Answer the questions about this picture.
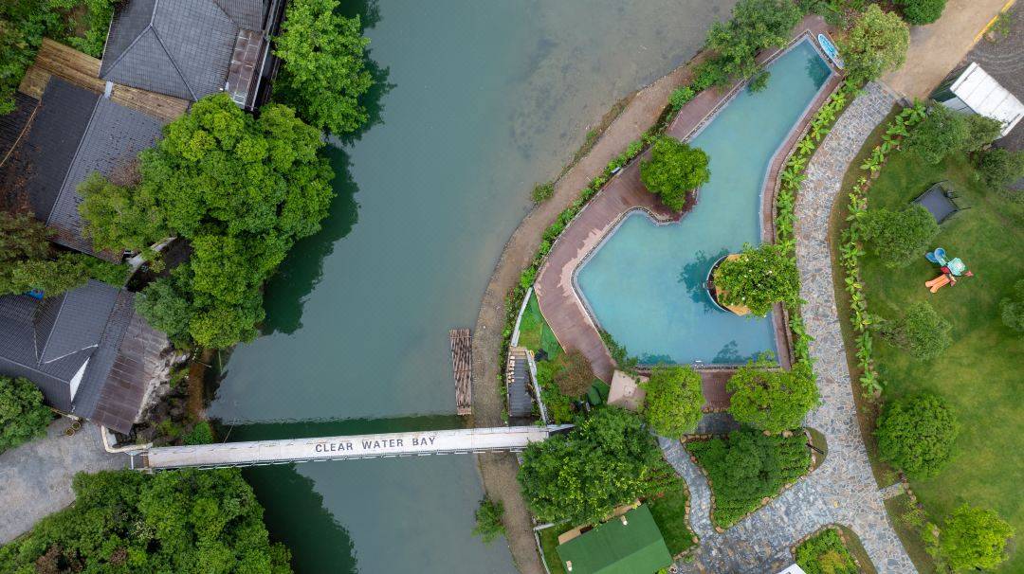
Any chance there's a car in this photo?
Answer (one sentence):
No, I can see no car in this picture.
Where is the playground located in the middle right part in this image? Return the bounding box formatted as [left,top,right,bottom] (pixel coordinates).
[925,247,977,293]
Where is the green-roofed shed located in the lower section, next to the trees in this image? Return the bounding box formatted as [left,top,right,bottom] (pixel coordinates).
[556,496,681,574]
